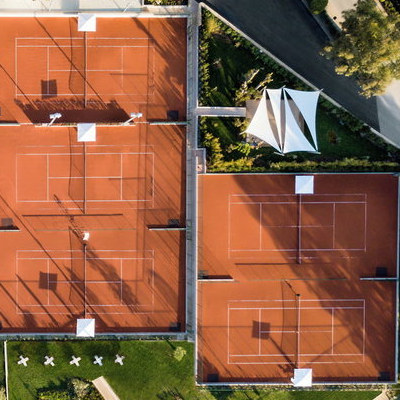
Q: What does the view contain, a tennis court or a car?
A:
tennis court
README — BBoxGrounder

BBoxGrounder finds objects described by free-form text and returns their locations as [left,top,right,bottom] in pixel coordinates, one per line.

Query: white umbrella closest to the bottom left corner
[77,318,95,336]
